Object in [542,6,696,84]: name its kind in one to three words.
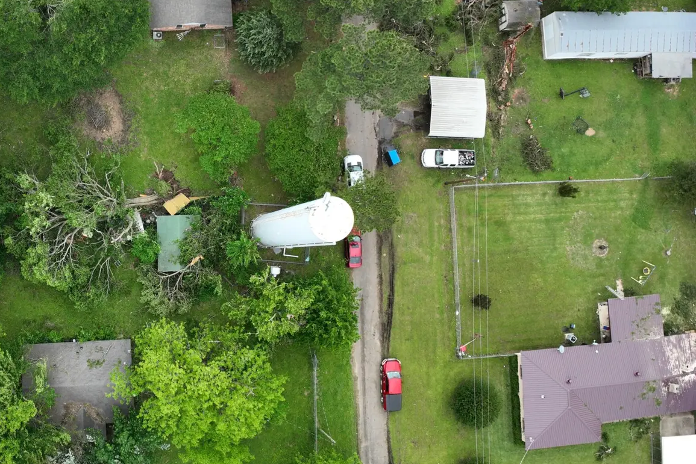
house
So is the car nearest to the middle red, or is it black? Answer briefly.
red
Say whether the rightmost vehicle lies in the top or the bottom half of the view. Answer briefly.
top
